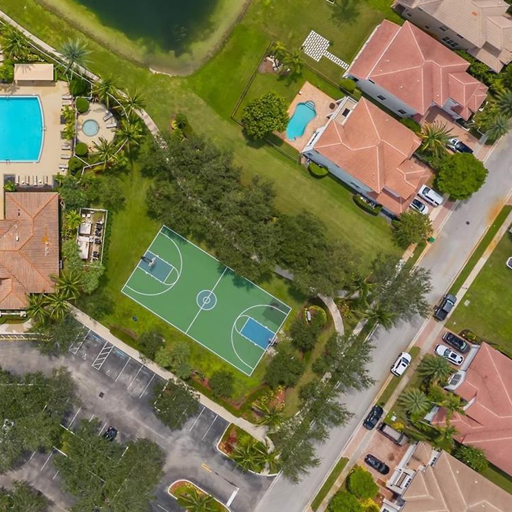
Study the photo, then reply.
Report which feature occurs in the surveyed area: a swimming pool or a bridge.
swimming pool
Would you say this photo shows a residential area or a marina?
residential area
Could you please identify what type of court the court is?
basketball court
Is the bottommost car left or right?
right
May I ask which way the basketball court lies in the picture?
at an angle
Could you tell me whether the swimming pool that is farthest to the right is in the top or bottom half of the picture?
top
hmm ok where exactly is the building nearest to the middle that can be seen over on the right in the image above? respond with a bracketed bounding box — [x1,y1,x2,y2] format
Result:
[301,97,430,216]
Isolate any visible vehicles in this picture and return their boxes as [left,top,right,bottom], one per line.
[390,352,412,379]
[364,453,389,475]
[364,403,385,431]
[101,422,119,444]
[378,423,406,444]
[443,331,466,349]
[433,291,457,323]
[407,196,431,216]
[436,345,458,361]
[447,137,473,154]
